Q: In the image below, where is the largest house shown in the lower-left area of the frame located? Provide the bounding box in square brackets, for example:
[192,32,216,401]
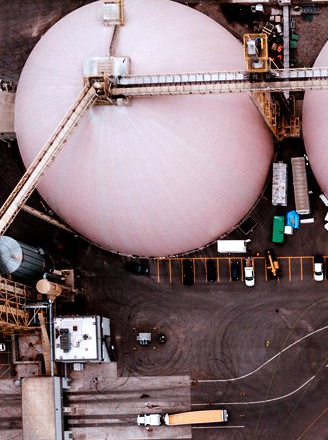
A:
[54,317,114,362]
